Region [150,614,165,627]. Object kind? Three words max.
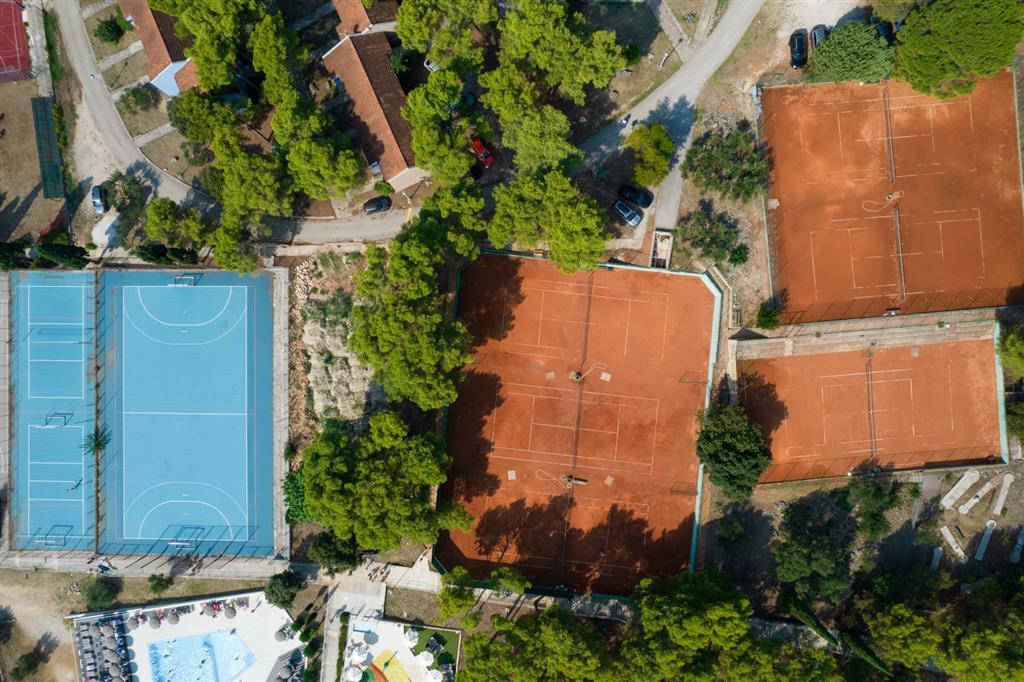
umbrella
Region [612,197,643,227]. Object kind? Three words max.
car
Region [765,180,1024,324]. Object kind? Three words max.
tennis court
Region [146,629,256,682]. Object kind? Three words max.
swimming pool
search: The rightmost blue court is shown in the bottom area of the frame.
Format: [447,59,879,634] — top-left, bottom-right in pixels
[98,271,274,557]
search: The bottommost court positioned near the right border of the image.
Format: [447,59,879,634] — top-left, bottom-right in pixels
[738,340,1004,484]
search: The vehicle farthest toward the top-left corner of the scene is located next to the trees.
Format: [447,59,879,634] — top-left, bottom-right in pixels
[87,183,106,213]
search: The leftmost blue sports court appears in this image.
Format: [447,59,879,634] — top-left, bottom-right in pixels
[10,270,95,552]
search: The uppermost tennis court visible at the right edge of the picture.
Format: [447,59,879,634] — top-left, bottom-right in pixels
[765,68,1022,206]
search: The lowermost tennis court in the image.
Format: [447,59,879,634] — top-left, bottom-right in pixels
[434,453,703,597]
